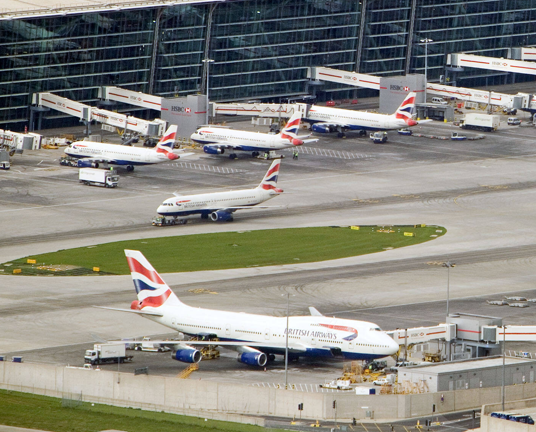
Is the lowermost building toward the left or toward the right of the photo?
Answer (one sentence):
The lowermost building sits on the right side.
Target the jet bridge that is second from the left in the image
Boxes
[100,105,174,147]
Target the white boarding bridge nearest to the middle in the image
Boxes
[204,102,312,135]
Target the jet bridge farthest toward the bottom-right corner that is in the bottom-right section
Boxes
[387,323,463,365]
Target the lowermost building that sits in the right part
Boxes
[403,354,536,392]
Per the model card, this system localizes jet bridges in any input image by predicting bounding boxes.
[387,323,463,365]
[0,130,42,161]
[100,105,174,147]
[204,102,312,135]
[419,83,536,119]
